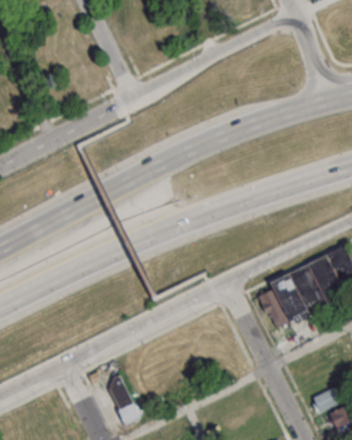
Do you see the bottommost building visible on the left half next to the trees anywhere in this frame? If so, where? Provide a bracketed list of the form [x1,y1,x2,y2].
[119,403,142,426]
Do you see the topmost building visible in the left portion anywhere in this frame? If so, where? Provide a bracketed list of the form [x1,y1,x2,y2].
[110,376,132,408]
